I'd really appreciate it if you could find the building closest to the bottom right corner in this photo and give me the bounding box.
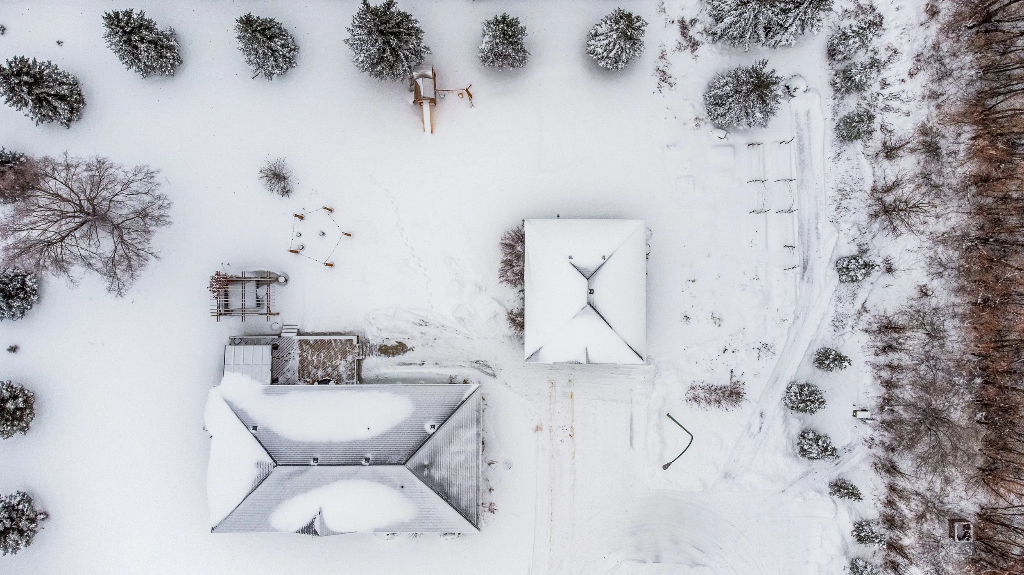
[523,214,647,366]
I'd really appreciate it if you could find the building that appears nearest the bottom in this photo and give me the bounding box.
[204,345,481,538]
